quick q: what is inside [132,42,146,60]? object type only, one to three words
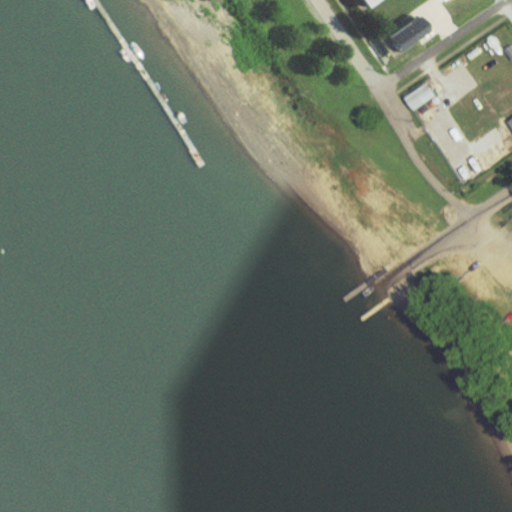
boat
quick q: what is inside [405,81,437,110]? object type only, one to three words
shed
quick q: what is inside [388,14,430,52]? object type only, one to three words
house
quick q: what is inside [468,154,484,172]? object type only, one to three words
vehicle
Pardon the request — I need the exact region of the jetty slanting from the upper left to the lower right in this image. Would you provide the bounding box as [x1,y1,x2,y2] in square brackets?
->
[94,0,204,164]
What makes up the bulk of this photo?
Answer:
water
